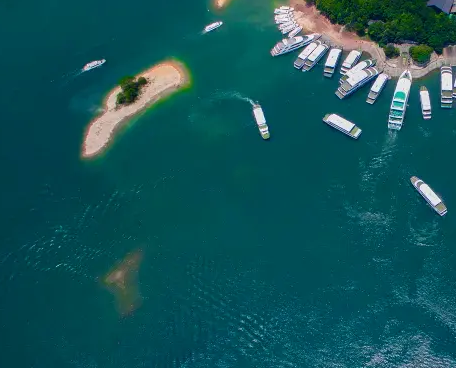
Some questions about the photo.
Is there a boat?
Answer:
Yes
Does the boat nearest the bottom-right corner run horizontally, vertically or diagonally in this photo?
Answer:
diagonally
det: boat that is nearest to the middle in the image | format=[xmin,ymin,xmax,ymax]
[252,102,269,140]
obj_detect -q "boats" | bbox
[304,43,331,71]
[440,66,453,107]
[274,12,292,19]
[274,8,289,14]
[340,59,378,84]
[323,46,344,77]
[339,49,361,73]
[204,21,223,32]
[82,61,106,71]
[270,33,321,57]
[411,176,448,216]
[279,21,296,29]
[276,17,294,23]
[288,27,302,37]
[324,115,362,138]
[282,24,298,33]
[366,73,392,104]
[294,38,321,68]
[336,68,384,100]
[252,102,269,140]
[420,85,432,119]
